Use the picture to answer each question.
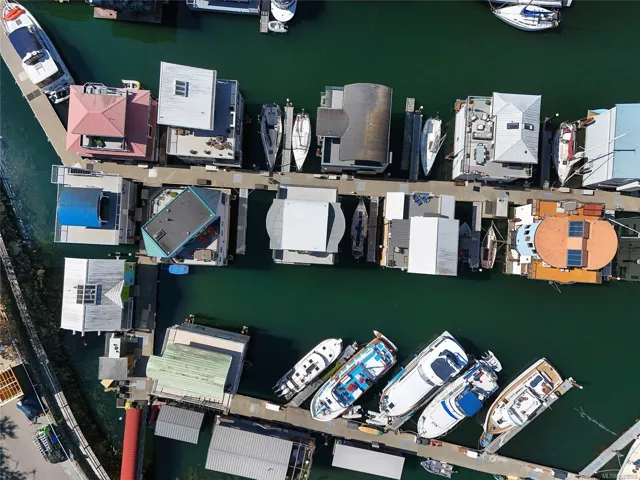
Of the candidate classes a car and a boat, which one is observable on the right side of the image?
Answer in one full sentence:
Looking on the right side of the image, you will find a boat.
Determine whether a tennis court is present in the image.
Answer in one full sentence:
No, there isn't any tennis court down there.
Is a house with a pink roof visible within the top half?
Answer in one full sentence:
Yes, a house with a pink roof is visible within the top half.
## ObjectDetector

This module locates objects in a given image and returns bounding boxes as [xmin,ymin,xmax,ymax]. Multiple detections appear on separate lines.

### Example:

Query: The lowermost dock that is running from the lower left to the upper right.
[577,419,640,477]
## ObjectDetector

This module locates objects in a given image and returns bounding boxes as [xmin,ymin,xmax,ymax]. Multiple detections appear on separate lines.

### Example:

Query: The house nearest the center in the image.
[266,186,346,265]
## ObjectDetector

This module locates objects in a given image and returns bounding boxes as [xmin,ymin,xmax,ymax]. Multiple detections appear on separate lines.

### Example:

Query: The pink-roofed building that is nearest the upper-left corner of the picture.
[66,78,159,162]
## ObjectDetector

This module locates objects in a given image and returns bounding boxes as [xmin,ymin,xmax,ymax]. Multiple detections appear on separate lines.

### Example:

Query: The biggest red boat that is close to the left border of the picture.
[2,6,23,20]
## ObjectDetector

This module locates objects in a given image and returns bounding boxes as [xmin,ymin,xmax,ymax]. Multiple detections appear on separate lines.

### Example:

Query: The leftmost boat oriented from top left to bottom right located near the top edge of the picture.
[0,0,76,105]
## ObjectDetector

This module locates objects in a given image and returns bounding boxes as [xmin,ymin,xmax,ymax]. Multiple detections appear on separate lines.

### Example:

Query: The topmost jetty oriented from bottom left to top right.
[286,345,357,410]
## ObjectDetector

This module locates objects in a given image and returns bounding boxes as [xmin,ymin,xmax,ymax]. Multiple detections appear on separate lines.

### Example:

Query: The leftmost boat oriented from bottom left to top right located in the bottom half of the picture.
[278,337,344,398]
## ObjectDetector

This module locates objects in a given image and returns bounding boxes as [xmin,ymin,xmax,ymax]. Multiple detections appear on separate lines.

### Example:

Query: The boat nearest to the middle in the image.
[350,199,368,258]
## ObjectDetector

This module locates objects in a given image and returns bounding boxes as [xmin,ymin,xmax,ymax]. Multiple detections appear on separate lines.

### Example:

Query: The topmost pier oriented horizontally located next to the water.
[0,25,640,213]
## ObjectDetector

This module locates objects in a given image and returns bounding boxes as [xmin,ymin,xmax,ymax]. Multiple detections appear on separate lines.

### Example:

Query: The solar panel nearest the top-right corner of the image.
[568,221,584,238]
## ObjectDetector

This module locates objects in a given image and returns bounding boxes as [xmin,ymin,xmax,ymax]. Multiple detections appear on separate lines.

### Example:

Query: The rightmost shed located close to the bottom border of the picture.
[332,435,407,479]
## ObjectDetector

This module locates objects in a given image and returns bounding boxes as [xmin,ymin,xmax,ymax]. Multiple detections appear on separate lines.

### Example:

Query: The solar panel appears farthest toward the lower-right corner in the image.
[566,249,582,266]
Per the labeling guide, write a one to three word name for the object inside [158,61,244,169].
house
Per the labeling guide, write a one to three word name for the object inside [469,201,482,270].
pier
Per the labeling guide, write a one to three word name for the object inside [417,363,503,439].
boat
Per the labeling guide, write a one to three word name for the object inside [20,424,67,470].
car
